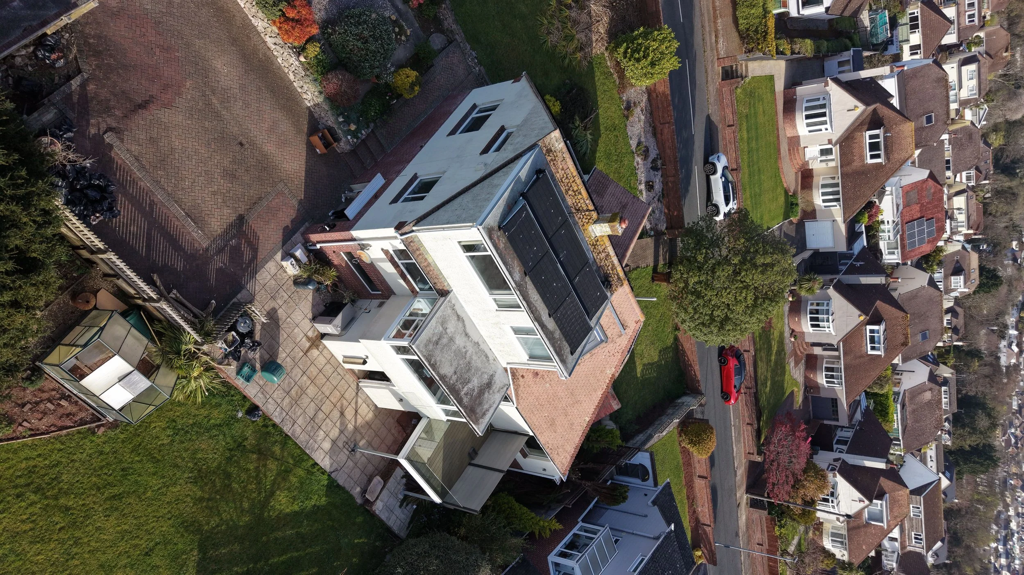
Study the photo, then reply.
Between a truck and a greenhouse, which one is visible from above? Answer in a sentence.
There is a greenhouse in the scene.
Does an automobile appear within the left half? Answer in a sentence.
No, no automobile appears within the left half.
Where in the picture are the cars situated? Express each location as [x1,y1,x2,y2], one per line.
[704,158,739,221]
[717,346,748,409]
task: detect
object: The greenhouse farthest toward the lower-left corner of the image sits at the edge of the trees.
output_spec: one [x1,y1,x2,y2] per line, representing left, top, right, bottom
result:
[38,309,184,431]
